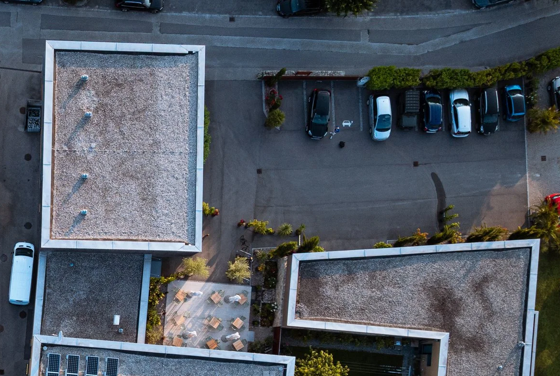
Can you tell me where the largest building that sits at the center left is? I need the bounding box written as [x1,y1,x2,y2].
[37,41,205,262]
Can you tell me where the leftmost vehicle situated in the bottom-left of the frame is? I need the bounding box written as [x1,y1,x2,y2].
[11,242,37,306]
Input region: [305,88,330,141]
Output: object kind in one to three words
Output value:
car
